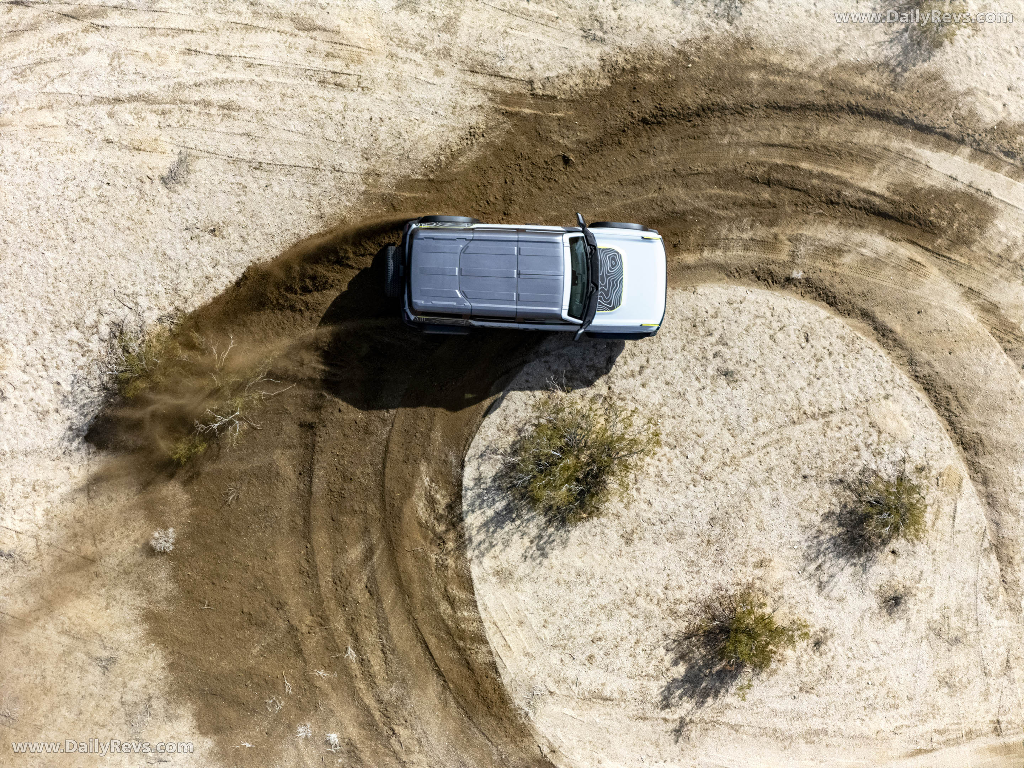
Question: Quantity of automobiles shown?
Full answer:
Altogether the scene contains 1 automobile.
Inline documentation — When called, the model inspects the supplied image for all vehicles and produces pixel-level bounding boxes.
[384,212,671,345]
